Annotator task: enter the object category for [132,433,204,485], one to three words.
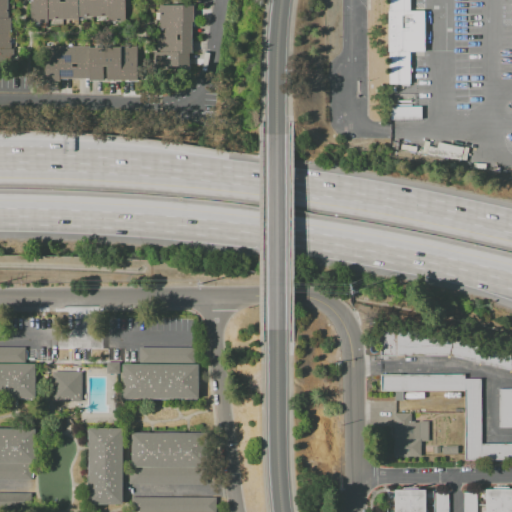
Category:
building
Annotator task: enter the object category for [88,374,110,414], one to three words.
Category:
swimming pool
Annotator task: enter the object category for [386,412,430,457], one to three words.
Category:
house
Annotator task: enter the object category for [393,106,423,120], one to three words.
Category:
shed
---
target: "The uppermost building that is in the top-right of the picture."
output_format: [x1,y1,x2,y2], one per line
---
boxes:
[388,0,426,54]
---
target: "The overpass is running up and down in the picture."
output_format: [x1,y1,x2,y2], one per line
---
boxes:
[263,122,294,336]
